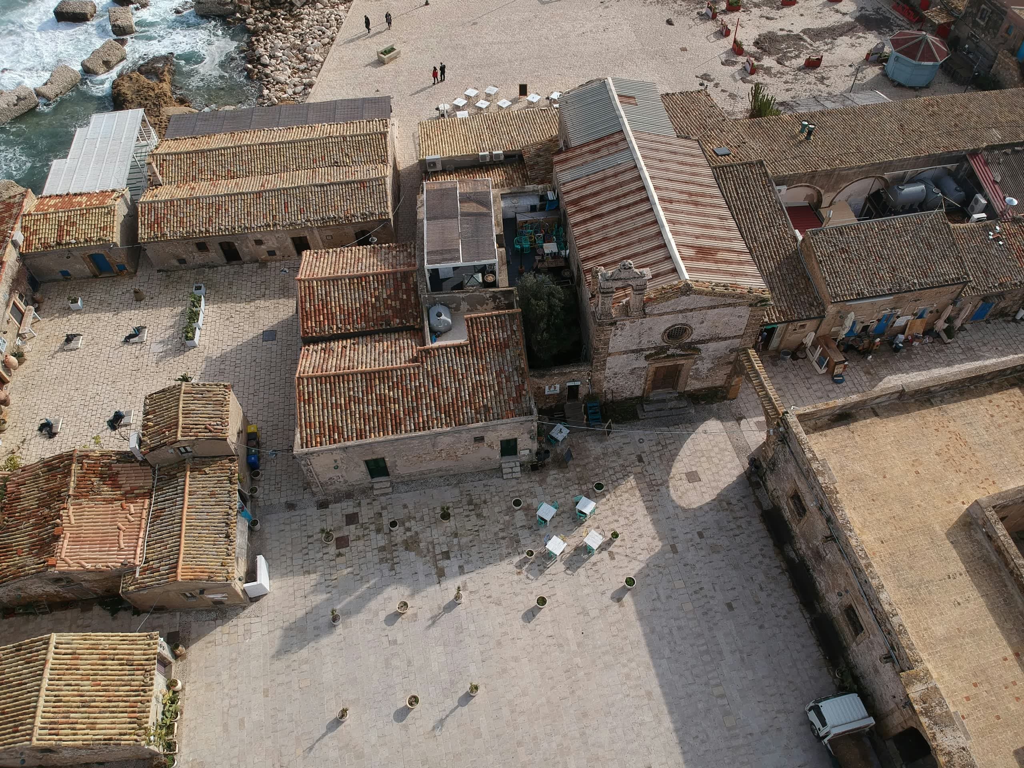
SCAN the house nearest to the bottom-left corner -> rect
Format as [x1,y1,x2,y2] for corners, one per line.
[0,630,172,761]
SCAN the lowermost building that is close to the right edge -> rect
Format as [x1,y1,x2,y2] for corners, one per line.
[740,355,1024,768]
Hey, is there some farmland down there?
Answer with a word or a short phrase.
No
